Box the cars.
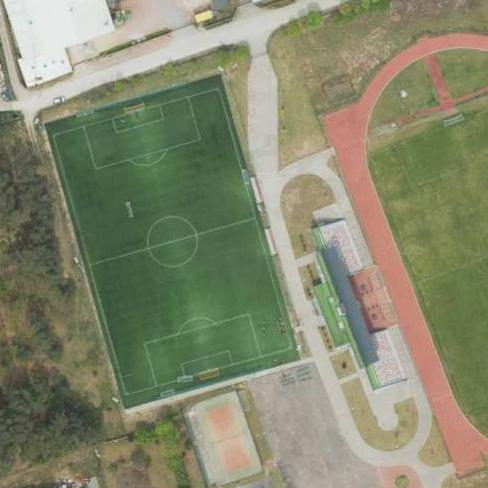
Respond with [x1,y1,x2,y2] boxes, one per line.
[2,88,11,100]
[53,96,66,102]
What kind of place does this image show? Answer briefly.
sports ground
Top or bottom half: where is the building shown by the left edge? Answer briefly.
top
